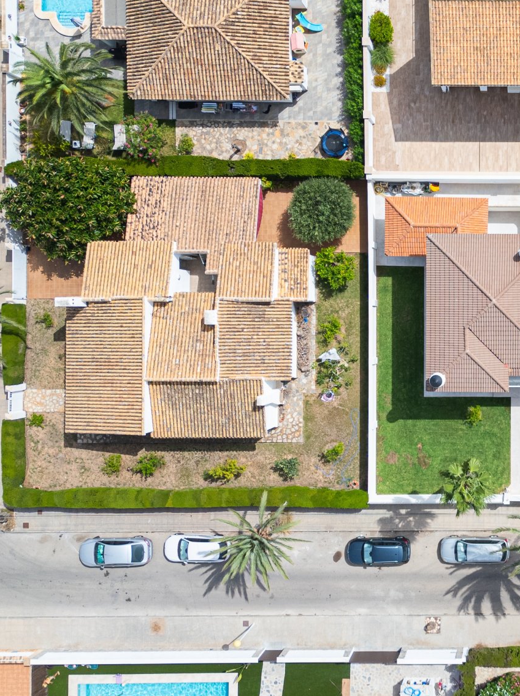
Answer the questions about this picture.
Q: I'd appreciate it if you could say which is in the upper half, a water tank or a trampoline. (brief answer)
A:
trampoline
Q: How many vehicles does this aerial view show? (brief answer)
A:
4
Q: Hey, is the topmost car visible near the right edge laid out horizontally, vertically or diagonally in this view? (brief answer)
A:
horizontally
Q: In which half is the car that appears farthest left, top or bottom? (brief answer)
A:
bottom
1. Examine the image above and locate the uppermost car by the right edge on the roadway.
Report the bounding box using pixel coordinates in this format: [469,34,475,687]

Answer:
[439,533,510,567]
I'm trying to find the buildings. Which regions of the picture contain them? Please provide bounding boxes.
[423,231,520,397]
[431,0,520,112]
[124,0,316,117]
[55,176,329,438]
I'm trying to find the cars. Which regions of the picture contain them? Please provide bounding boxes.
[81,534,154,571]
[166,530,234,566]
[439,533,510,567]
[346,533,411,569]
